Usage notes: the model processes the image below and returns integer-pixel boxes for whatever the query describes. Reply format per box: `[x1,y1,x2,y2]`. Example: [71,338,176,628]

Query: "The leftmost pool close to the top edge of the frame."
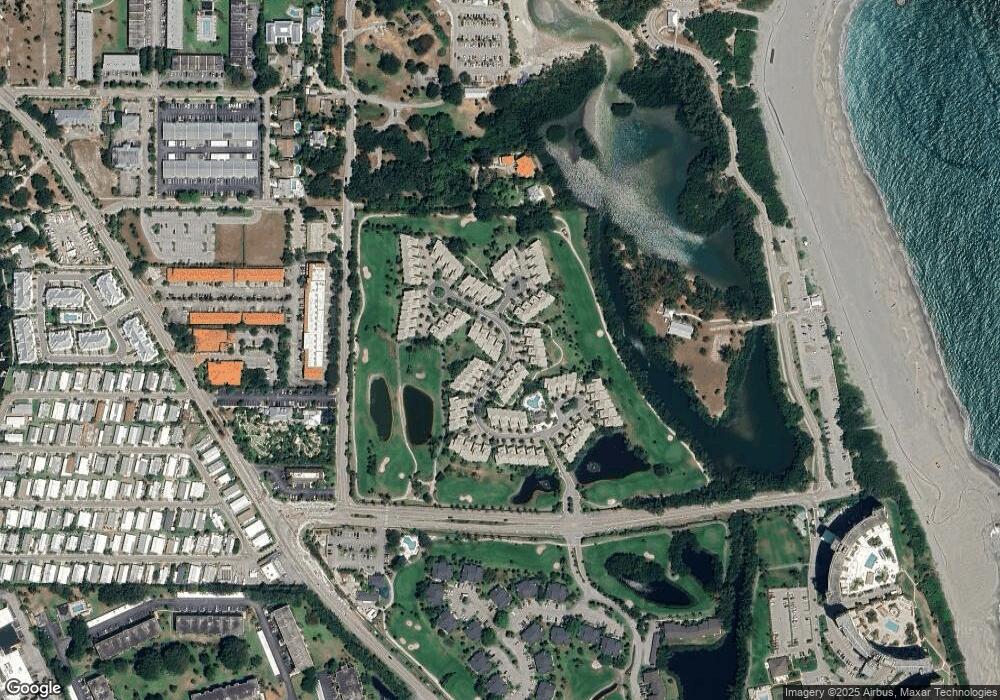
[200,17,217,41]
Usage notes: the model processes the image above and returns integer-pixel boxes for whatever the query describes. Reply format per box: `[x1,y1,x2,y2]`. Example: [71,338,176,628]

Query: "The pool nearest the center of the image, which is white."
[524,391,545,412]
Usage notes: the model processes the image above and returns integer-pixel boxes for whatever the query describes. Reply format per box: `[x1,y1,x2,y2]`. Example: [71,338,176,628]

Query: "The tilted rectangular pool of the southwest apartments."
[69,599,90,617]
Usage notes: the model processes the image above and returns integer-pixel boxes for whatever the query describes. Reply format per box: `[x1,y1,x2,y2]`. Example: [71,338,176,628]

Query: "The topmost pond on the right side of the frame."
[527,0,752,290]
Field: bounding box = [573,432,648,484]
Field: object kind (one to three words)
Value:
pond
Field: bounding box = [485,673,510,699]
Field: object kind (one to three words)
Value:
house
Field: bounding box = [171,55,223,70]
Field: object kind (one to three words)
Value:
building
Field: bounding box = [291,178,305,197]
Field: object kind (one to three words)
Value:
swimming pool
